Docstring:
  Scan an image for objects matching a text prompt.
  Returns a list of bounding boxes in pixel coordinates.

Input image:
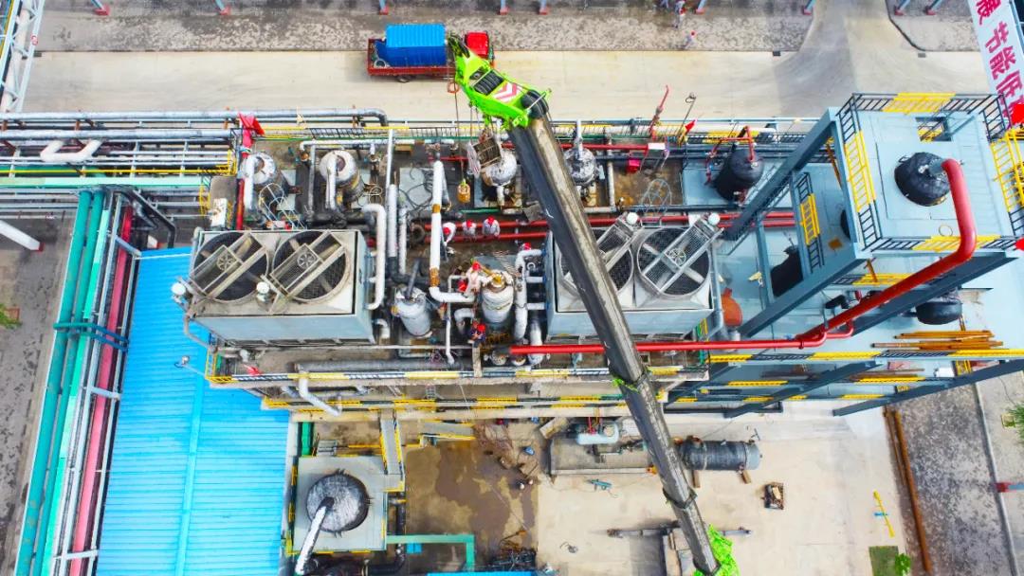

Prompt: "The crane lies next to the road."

[444,34,751,576]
